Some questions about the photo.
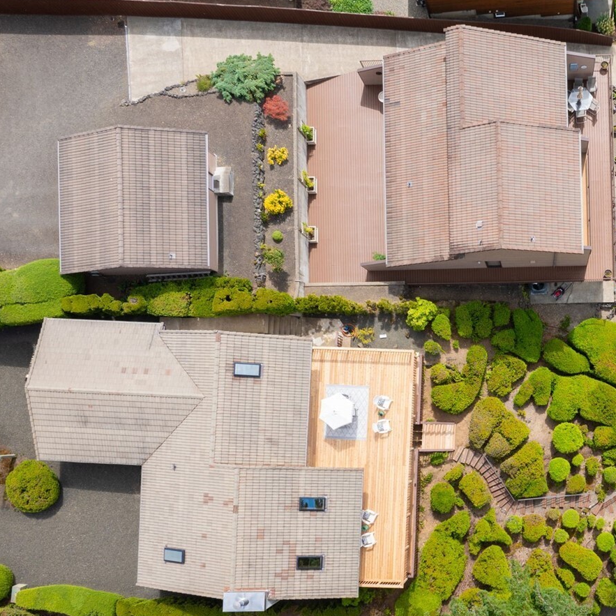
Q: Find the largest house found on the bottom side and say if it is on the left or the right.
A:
left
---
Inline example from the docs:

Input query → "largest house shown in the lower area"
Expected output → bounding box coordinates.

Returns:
[24,317,365,612]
